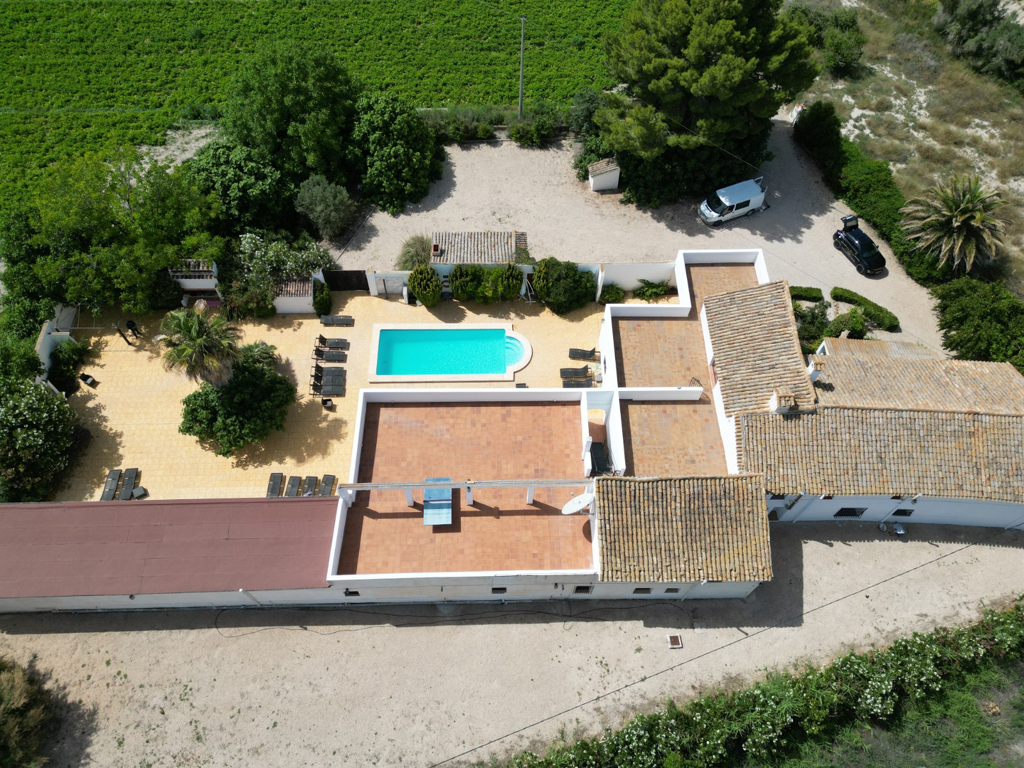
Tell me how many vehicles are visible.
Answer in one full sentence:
The photo contains 2 vehicles.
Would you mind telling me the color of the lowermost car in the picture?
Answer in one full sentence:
In this view, the lowermost car is black.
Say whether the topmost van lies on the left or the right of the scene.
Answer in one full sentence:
The topmost van appears in the right half of the scene.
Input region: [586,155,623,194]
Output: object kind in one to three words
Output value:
shed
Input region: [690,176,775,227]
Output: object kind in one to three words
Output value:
van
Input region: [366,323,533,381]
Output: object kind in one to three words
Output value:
swimming pool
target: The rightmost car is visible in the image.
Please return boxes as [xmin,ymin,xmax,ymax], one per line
[834,210,890,278]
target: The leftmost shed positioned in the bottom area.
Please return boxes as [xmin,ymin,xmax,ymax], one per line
[0,496,340,615]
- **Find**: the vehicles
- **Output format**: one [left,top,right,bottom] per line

[690,176,775,227]
[834,210,890,278]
